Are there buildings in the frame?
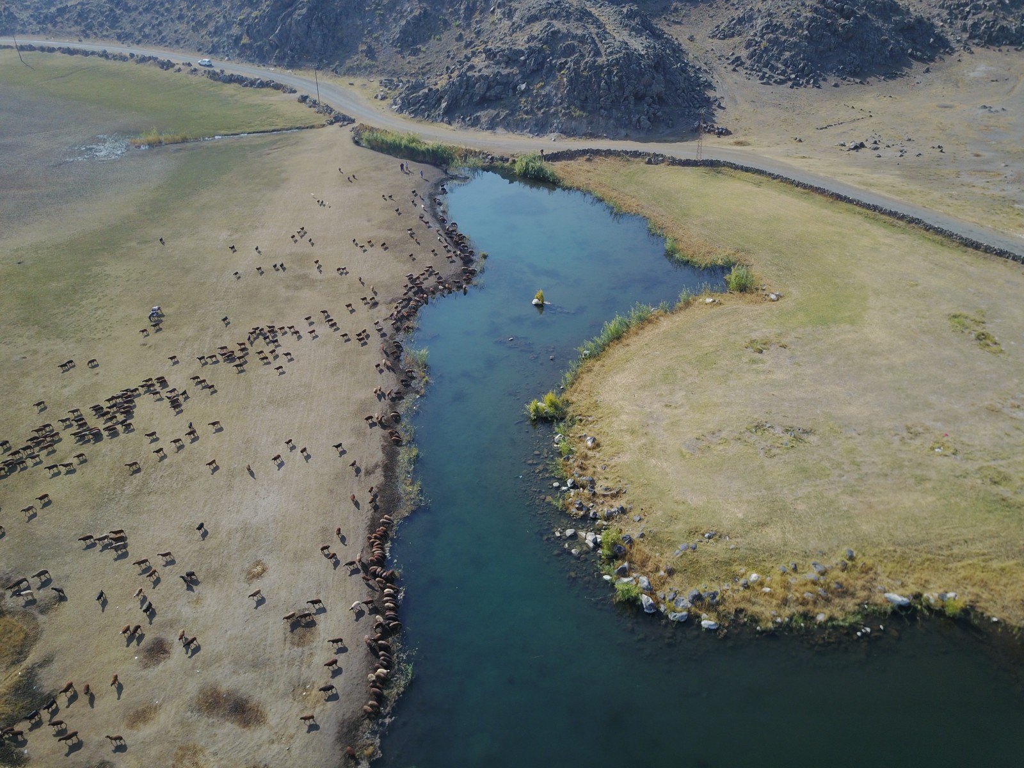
No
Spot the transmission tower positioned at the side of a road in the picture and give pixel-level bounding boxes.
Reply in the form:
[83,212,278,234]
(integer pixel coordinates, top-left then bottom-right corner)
[695,104,712,159]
